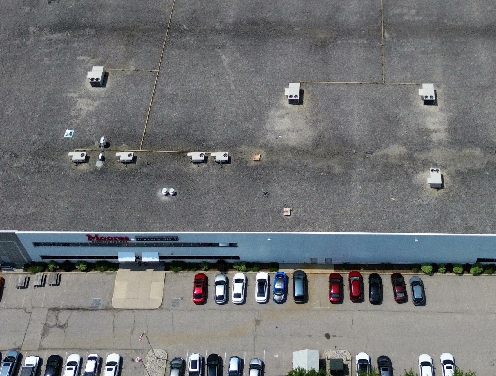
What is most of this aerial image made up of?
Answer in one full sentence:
The largest share of the image is taken up by buildings.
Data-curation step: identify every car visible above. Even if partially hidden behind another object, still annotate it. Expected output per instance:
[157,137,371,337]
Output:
[214,274,228,305]
[83,352,101,376]
[206,353,221,376]
[410,277,426,306]
[232,273,246,305]
[328,273,343,305]
[249,357,264,376]
[356,351,370,376]
[187,351,203,376]
[377,353,393,376]
[292,271,307,305]
[105,353,121,376]
[193,273,207,305]
[349,272,364,302]
[228,354,242,376]
[0,351,22,376]
[368,273,382,305]
[65,353,83,376]
[418,353,435,376]
[255,273,268,304]
[273,273,287,302]
[391,273,408,305]
[439,352,455,376]
[20,353,41,376]
[45,354,62,376]
[170,357,186,376]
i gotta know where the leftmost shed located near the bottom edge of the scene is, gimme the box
[298,353,325,374]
